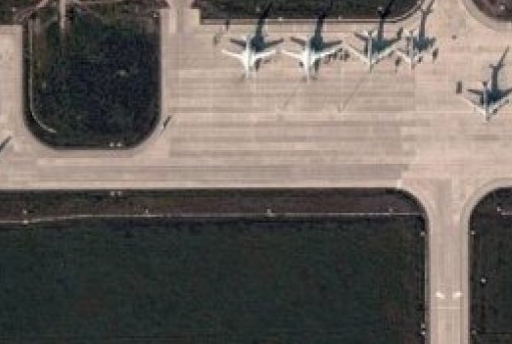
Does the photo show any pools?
No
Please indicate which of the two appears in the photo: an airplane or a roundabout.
airplane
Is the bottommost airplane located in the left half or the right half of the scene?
right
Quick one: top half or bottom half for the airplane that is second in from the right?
top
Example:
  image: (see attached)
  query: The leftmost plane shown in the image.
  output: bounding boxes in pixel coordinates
[221,29,276,80]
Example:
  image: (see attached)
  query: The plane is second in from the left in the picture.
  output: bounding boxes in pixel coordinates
[281,31,336,82]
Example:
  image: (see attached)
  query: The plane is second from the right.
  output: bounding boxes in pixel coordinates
[396,30,428,71]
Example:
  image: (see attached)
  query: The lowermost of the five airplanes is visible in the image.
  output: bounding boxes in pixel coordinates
[462,79,509,121]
